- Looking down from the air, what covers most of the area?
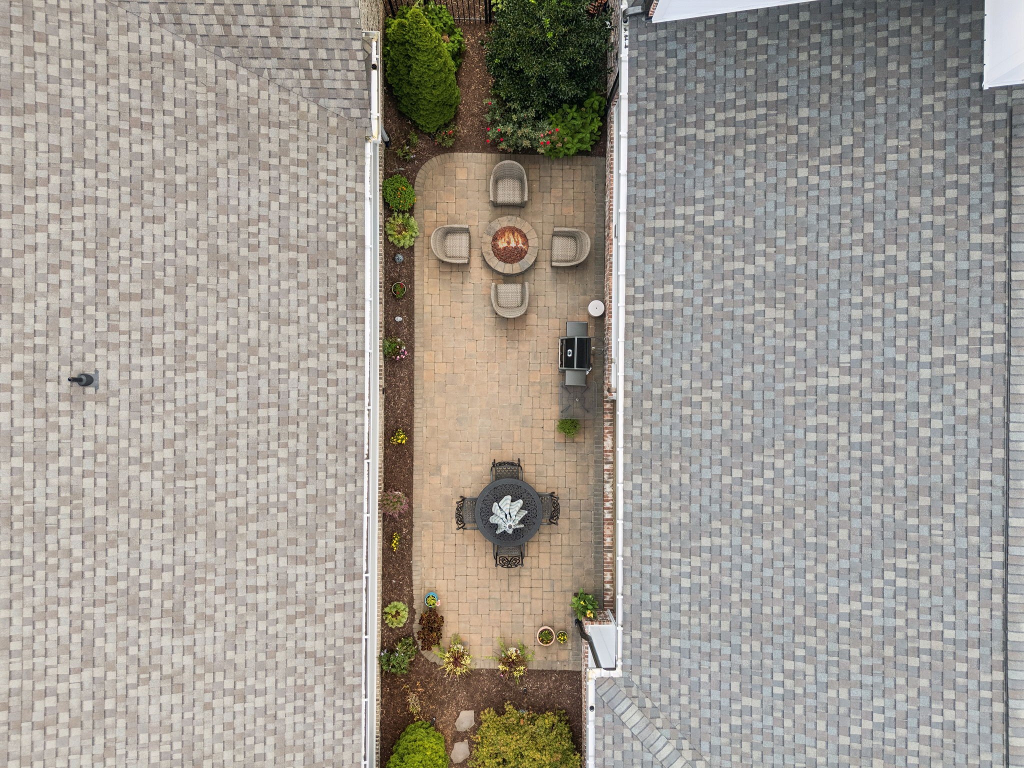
buildings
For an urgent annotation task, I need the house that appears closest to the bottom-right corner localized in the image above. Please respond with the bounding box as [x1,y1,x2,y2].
[573,0,1024,768]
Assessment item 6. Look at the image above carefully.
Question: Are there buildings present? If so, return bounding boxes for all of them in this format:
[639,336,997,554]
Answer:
[573,0,1024,768]
[0,0,390,768]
